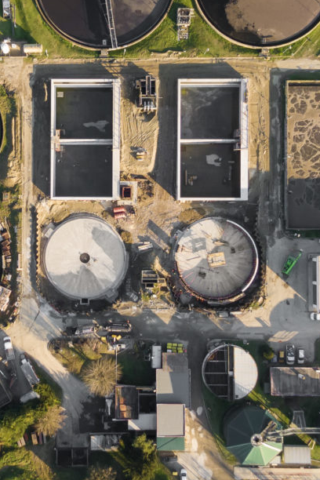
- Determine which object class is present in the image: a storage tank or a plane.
storage tank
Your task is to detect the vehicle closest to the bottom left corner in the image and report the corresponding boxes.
[19,356,41,391]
